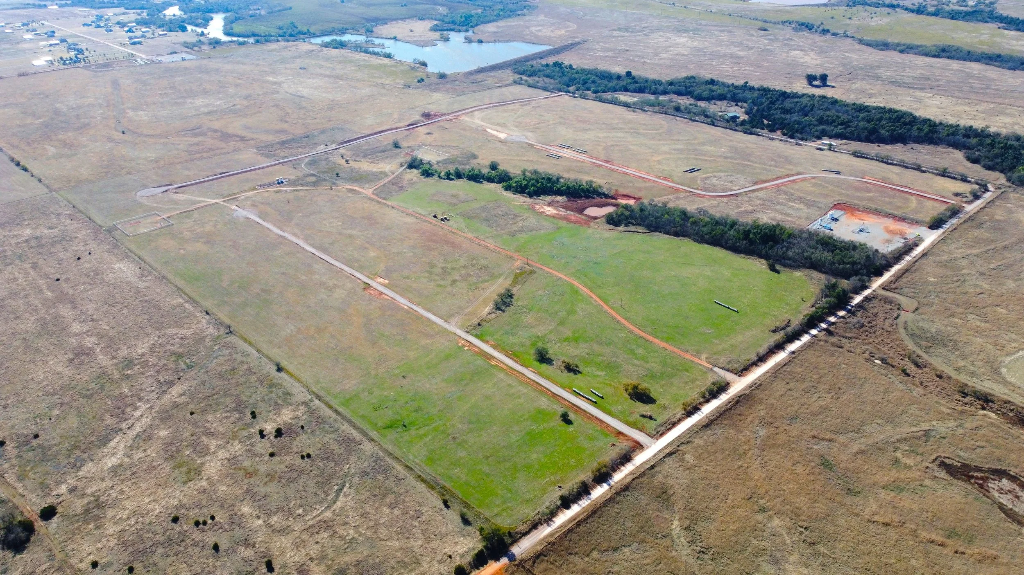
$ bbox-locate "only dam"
[450,37,593,78]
